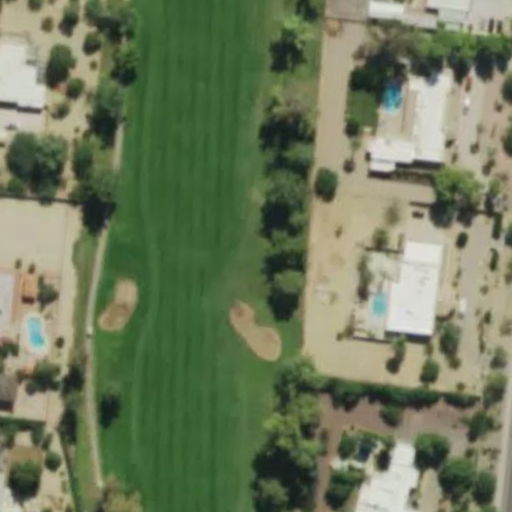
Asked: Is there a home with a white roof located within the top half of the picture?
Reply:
Yes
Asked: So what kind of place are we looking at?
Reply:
golf course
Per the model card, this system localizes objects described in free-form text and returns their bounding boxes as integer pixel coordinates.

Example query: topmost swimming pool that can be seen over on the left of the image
[25,314,48,350]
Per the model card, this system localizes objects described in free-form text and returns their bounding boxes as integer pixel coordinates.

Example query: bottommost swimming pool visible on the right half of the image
[356,437,377,463]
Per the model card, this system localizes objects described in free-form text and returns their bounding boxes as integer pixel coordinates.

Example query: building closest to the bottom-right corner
[356,443,420,512]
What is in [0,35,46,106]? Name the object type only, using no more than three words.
house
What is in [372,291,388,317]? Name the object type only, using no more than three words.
swimming pool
